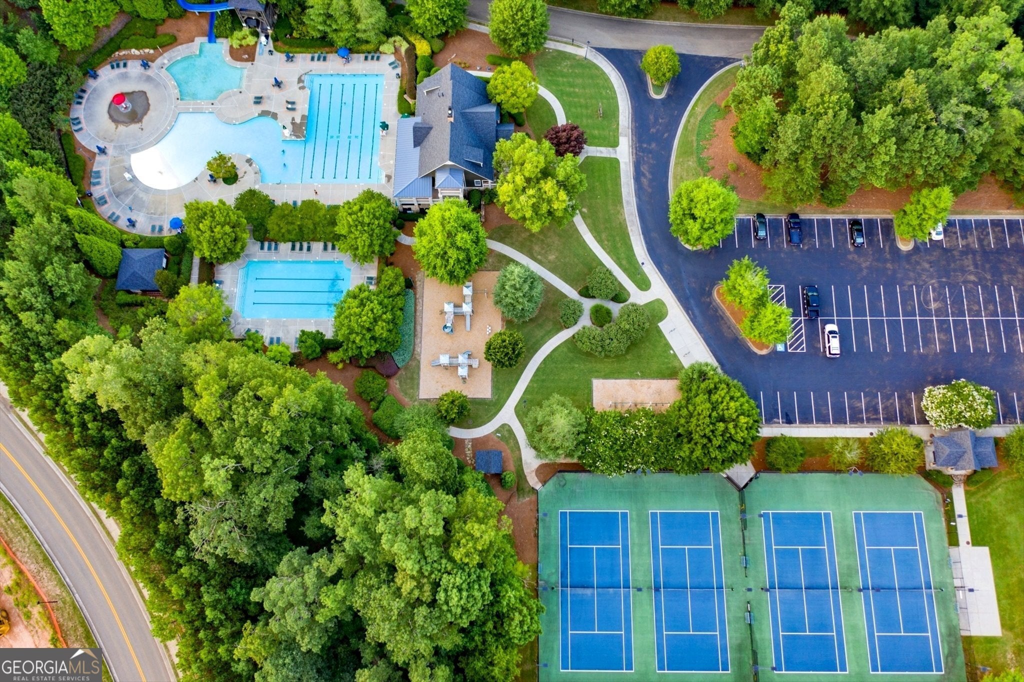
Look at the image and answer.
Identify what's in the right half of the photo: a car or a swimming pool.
car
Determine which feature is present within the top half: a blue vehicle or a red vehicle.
blue vehicle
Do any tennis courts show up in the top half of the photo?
No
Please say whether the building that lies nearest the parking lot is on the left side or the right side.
right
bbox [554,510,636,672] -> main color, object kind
blue tennis court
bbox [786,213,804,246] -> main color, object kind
blue vehicle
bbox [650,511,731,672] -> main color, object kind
blue tennis court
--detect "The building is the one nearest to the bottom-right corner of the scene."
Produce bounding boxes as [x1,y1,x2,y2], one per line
[927,431,998,471]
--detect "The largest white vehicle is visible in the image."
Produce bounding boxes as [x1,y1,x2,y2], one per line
[822,326,840,357]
